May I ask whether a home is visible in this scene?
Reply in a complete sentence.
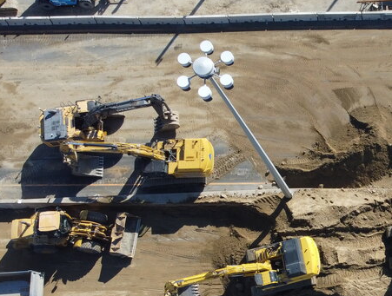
No, no home is visible in the scene.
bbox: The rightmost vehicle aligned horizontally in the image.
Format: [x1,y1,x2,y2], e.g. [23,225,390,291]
[164,237,324,296]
